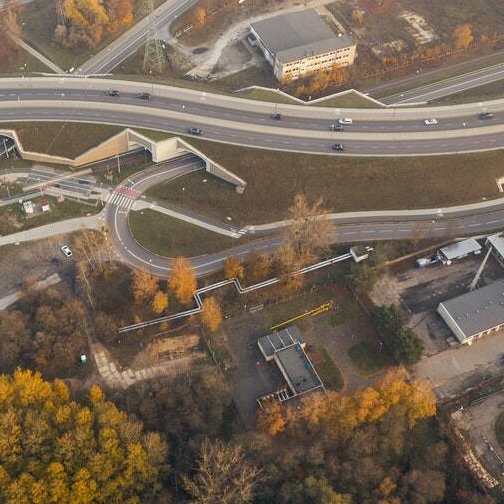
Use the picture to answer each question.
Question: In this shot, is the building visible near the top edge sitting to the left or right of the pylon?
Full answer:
The pylon has the building visible near the top edge on its right side.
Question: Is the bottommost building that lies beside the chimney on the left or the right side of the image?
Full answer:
It is on the right.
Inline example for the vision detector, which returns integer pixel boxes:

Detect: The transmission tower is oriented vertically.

[144,0,168,75]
